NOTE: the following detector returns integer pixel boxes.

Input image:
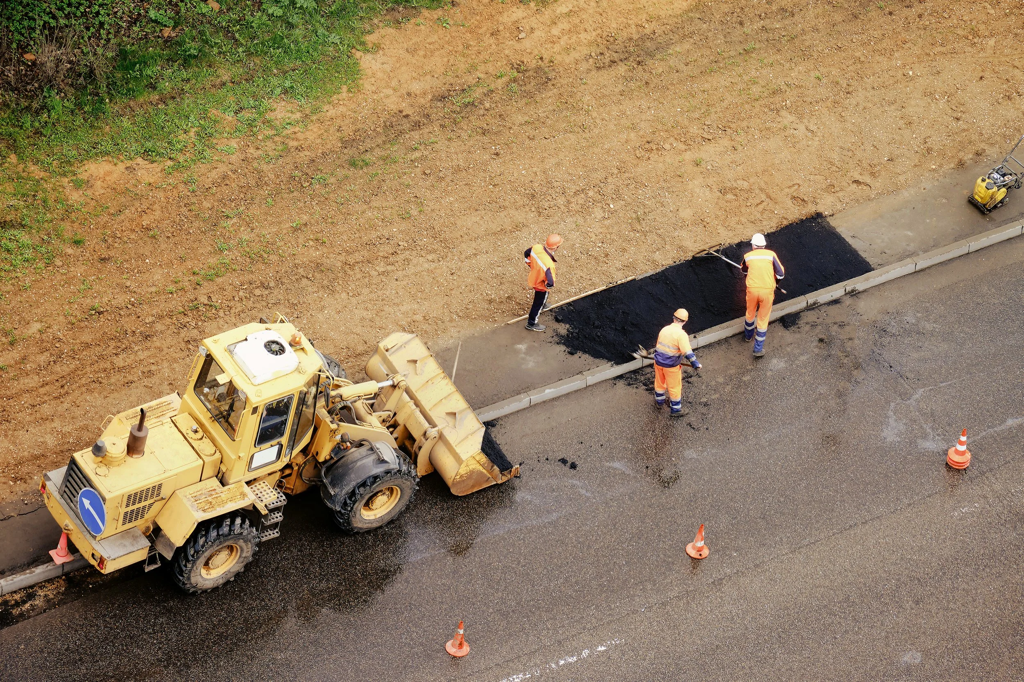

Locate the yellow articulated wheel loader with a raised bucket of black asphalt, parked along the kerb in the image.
[39,309,524,594]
